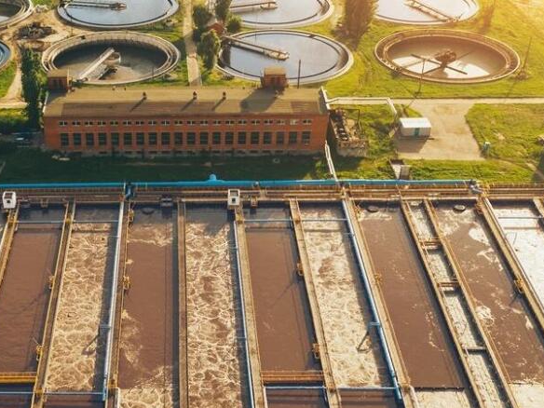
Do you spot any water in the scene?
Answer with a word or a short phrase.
Yes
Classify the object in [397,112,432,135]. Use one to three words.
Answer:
shed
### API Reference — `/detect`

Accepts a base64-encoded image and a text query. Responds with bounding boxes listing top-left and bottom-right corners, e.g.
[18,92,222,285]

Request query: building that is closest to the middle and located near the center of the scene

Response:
[227,185,242,207]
